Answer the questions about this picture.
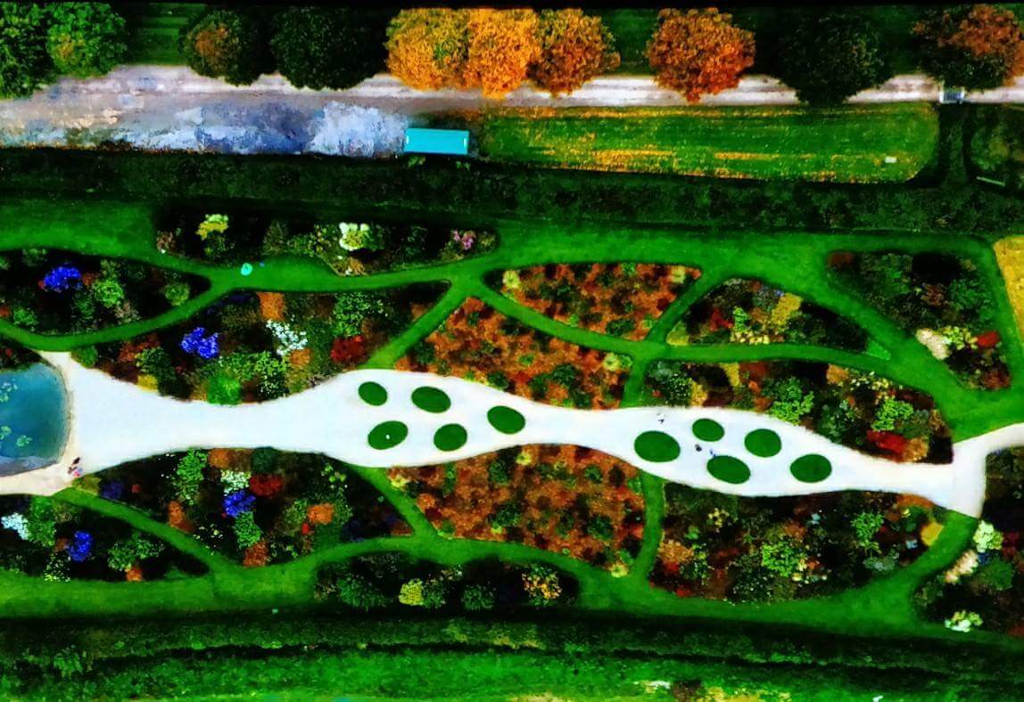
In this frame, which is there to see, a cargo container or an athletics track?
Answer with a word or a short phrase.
cargo container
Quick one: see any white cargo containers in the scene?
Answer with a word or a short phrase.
No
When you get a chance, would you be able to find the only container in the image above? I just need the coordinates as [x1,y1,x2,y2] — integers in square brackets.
[403,126,471,159]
